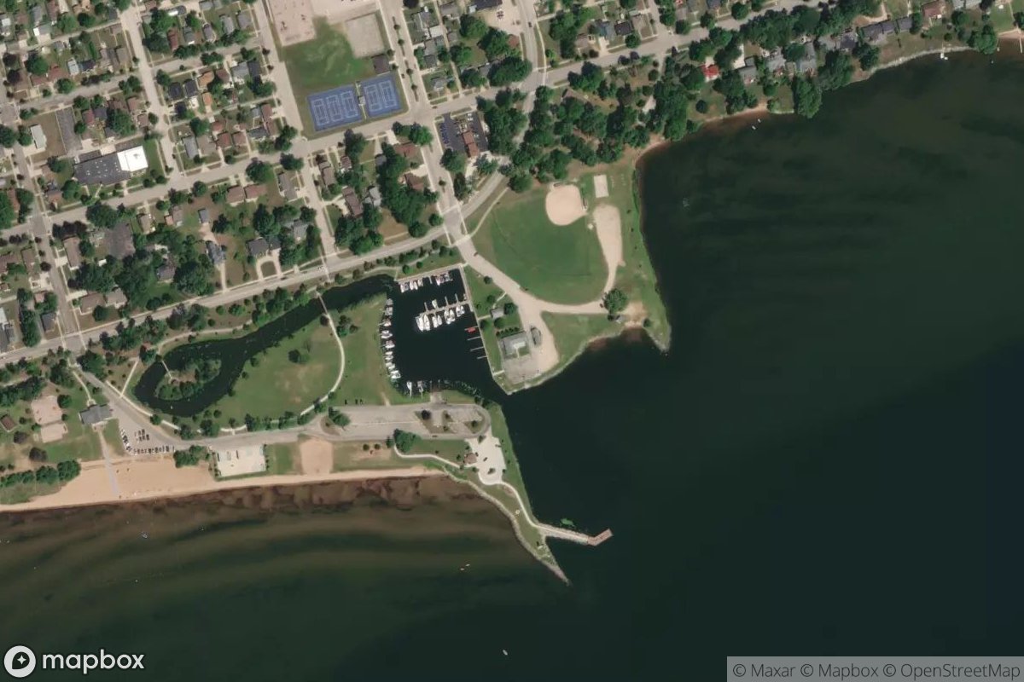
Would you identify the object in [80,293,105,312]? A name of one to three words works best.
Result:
house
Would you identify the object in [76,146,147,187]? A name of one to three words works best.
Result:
building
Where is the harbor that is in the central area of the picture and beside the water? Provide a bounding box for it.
[388,264,508,394]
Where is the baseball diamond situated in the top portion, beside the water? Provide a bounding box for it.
[483,181,607,303]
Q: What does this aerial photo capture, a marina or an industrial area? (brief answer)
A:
marina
